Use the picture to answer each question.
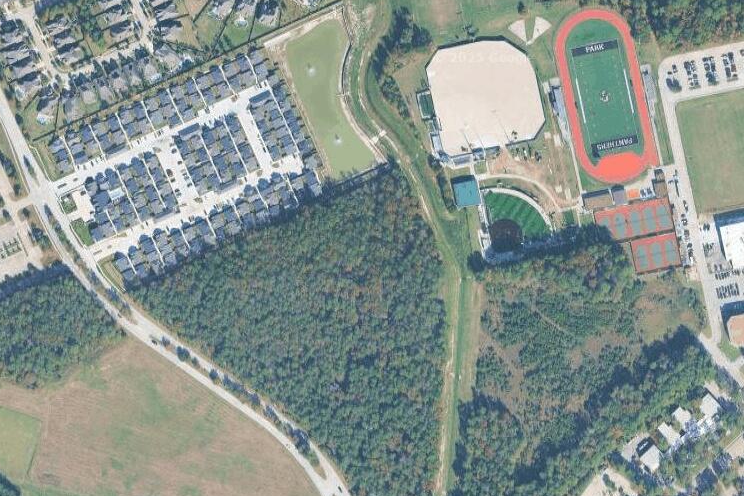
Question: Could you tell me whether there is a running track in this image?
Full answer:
Yes, this view includes a running track.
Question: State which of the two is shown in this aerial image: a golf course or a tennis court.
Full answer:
The image shows a tennis court.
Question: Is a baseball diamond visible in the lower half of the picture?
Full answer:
No, I can find no baseball diamond in the lower half of the picture.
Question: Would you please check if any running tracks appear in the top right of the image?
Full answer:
Yes, a running track appears in the top right of the image.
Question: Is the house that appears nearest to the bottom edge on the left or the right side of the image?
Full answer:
You can find the house that appears nearest to the bottom edge on the right side of the picture.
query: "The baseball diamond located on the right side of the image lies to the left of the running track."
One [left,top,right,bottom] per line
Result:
[427,42,545,157]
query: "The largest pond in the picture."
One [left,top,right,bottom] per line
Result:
[285,18,375,177]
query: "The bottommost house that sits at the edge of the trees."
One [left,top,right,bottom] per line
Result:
[636,441,664,470]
